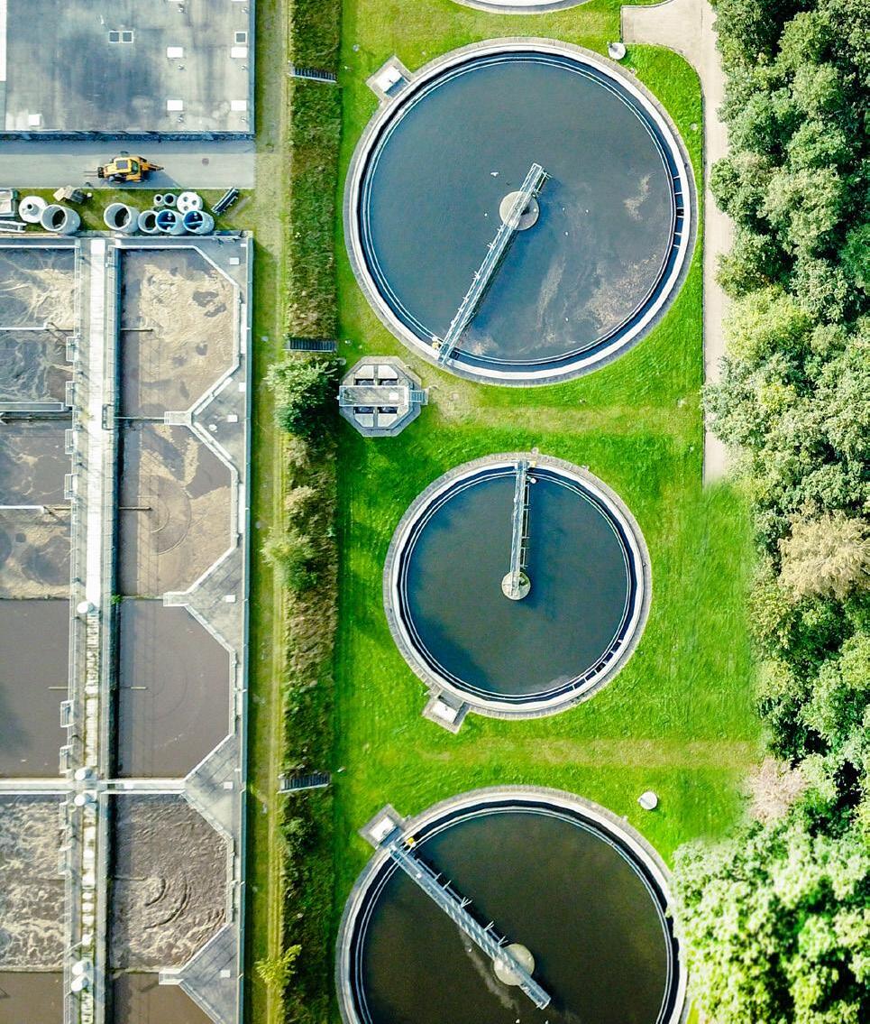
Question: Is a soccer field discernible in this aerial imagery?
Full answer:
No, no soccer field is visible in the scene.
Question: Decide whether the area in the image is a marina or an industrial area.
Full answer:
This looks like an industrial area.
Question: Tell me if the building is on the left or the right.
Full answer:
It is on the left.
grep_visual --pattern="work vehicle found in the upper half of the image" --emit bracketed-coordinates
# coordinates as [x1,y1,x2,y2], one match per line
[96,149,165,186]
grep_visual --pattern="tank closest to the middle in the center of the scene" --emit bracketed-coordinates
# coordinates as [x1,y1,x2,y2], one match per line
[383,452,651,720]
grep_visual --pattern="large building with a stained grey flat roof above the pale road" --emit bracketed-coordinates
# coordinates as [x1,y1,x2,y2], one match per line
[0,0,253,142]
